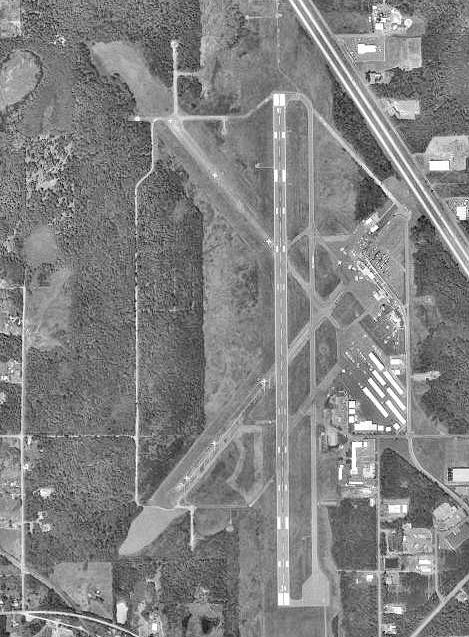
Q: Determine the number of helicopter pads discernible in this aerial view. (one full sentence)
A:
The count of helicopter pads is 0.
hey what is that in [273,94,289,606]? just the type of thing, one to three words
runway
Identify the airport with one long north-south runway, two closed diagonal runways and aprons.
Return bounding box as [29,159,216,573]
[144,91,406,608]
